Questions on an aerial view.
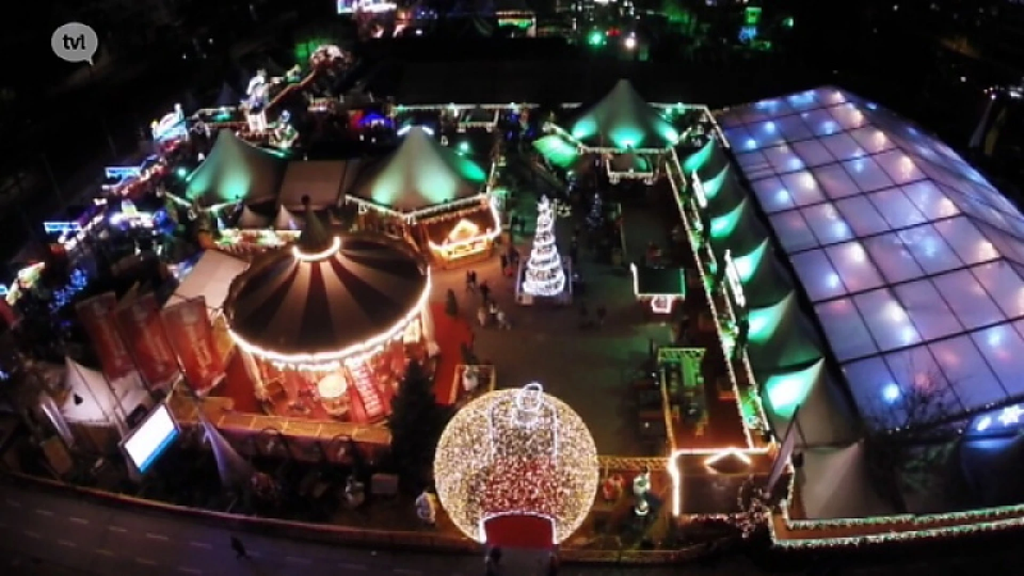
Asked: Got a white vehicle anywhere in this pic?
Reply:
No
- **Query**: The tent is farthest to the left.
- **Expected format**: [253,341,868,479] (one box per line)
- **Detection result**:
[57,363,156,451]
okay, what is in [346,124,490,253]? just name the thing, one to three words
tent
